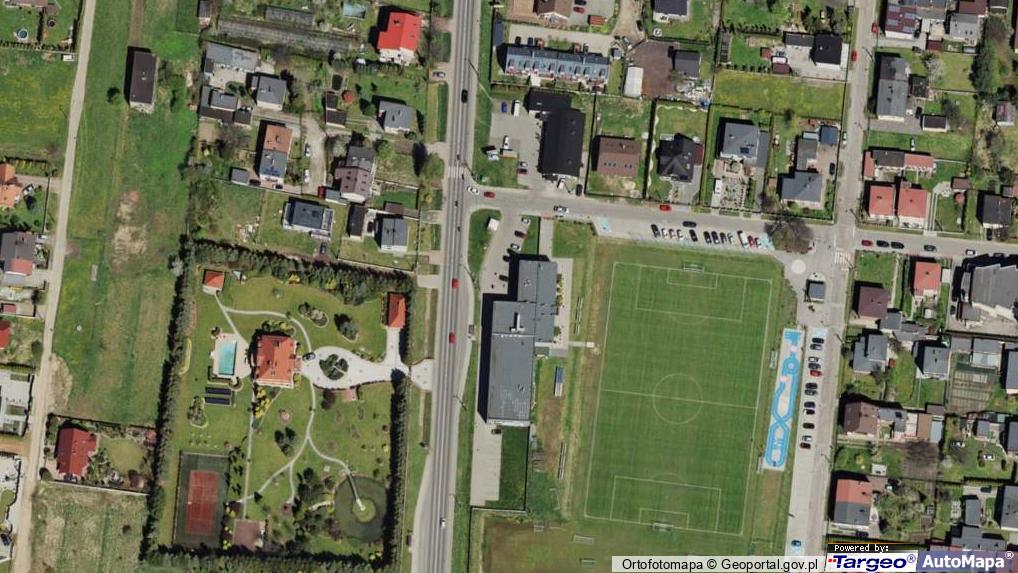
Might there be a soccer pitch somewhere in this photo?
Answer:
Yes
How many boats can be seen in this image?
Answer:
0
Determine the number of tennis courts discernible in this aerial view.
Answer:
1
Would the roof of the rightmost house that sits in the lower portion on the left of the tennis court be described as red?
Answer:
Yes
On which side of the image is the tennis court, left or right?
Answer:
left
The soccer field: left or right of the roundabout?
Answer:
to the left of it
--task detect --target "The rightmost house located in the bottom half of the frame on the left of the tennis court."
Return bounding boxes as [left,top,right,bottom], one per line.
[56,427,99,477]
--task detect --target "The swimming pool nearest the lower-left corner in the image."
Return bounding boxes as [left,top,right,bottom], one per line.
[218,339,237,378]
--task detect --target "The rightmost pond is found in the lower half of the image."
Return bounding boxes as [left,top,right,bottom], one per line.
[333,475,388,542]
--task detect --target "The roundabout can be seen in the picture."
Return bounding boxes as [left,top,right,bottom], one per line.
[783,253,813,282]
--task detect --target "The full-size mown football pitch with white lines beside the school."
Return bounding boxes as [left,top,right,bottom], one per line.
[582,260,776,539]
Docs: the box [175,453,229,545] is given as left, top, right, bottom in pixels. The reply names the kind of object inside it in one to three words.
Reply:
tennis court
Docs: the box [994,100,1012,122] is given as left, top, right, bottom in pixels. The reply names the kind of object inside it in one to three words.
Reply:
house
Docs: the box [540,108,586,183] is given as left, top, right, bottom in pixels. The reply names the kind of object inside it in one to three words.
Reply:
building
